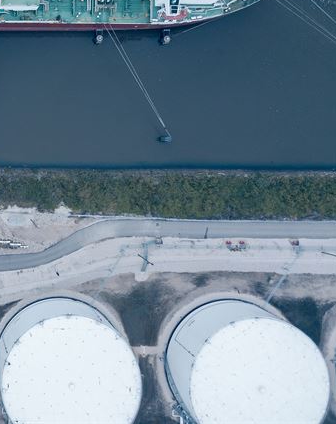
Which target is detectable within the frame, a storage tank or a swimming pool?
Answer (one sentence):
Of the two, only a storage tank appears.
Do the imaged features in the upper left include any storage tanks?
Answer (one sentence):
No, no storage tank can be made out in the upper left.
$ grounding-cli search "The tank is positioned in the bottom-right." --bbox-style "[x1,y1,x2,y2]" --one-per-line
[163,298,329,424]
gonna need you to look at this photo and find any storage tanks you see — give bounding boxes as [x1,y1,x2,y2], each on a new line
[0,298,143,424]
[163,298,329,424]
